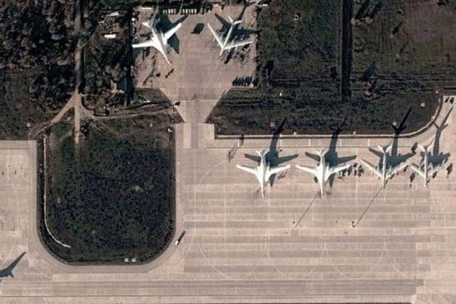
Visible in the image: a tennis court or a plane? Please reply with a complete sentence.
This aerial view contains a plane.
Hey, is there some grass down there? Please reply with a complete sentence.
Yes, there is grass in the image.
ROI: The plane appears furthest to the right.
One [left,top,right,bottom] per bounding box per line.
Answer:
[410,141,444,187]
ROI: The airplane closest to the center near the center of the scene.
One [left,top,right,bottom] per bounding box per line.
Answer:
[236,149,291,198]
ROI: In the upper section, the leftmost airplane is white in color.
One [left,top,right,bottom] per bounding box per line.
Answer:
[132,19,181,65]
